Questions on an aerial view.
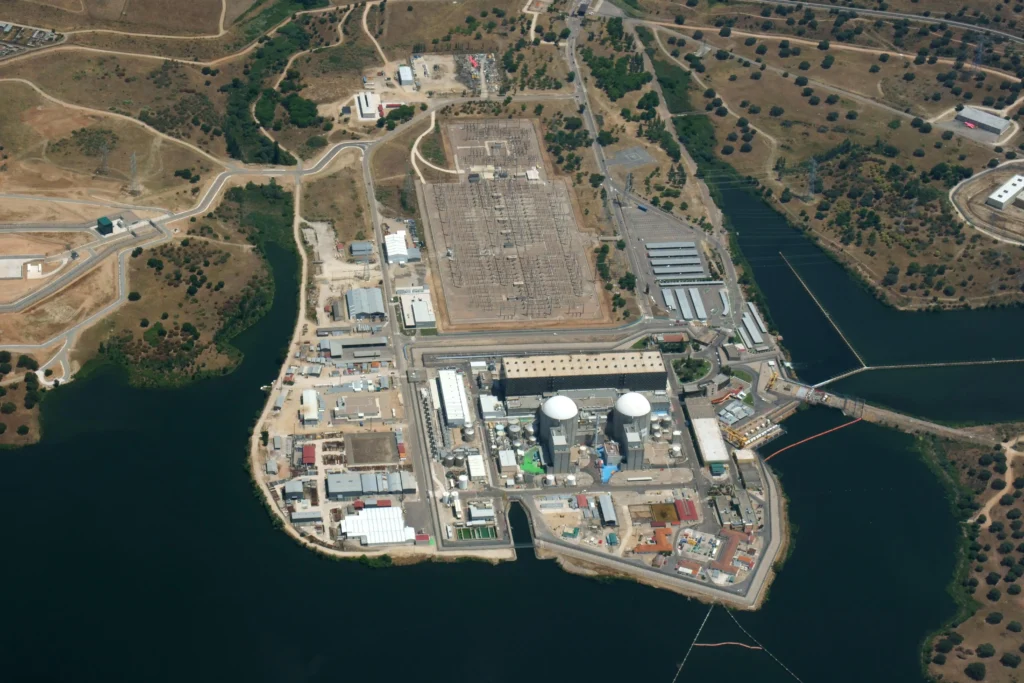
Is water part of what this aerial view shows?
Yes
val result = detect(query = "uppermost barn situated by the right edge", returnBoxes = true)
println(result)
[956,106,1010,132]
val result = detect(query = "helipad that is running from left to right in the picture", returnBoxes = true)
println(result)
[607,147,656,167]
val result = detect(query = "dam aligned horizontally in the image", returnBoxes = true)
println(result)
[785,385,866,417]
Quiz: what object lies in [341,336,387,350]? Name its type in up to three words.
shed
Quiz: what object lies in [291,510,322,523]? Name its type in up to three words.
shed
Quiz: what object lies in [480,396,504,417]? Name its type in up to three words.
building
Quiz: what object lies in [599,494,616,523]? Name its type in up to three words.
building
